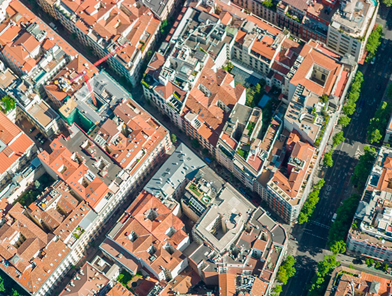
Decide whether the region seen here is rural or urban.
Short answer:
urban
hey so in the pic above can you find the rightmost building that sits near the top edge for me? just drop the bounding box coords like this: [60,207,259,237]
[324,0,379,60]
